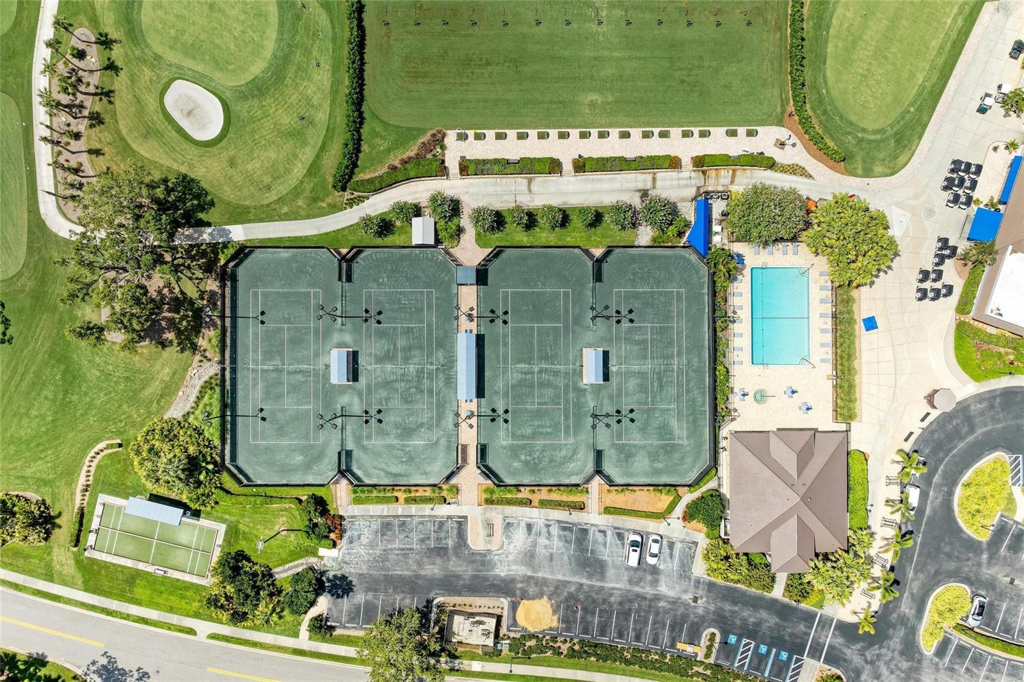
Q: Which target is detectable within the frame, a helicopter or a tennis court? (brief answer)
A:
tennis court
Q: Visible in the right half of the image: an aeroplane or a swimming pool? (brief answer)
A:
swimming pool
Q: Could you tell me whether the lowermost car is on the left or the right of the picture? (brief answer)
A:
right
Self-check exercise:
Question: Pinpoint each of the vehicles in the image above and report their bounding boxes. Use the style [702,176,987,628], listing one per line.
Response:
[975,95,994,115]
[938,176,955,193]
[944,191,962,208]
[992,84,1011,102]
[945,159,962,176]
[956,159,973,177]
[949,176,967,192]
[957,193,974,210]
[966,163,983,179]
[927,267,943,283]
[925,285,941,301]
[933,236,949,252]
[914,268,930,284]
[645,533,661,565]
[961,178,979,194]
[929,252,946,268]
[943,244,958,260]
[912,285,928,301]
[939,281,953,297]
[625,533,642,567]
[965,594,985,627]
[1004,37,1024,58]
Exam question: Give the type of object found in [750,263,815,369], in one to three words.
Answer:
swimming pool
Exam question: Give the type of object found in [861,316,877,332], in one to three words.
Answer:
umbrella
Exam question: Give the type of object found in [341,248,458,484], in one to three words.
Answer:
tennis court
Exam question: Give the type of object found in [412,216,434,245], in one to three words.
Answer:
shed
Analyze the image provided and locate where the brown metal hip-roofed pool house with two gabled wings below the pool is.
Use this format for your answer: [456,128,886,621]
[727,429,848,572]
